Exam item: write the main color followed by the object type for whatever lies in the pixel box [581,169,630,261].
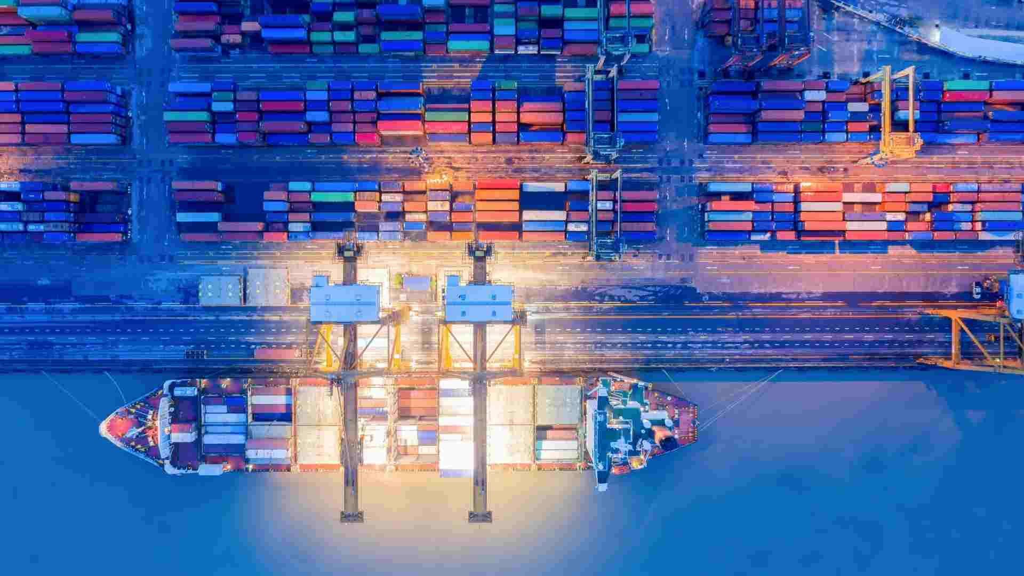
blue container crane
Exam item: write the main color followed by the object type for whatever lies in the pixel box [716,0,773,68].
blue container crane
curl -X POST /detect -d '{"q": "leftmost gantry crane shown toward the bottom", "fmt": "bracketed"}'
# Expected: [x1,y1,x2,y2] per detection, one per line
[307,233,415,524]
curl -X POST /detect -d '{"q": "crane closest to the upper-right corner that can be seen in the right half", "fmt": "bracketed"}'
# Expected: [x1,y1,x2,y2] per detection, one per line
[855,65,924,165]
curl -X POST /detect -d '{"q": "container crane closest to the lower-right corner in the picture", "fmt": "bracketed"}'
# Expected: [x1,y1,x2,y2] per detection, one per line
[930,273,1024,375]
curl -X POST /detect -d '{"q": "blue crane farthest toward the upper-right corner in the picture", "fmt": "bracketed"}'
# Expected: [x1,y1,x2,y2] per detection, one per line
[759,0,821,66]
